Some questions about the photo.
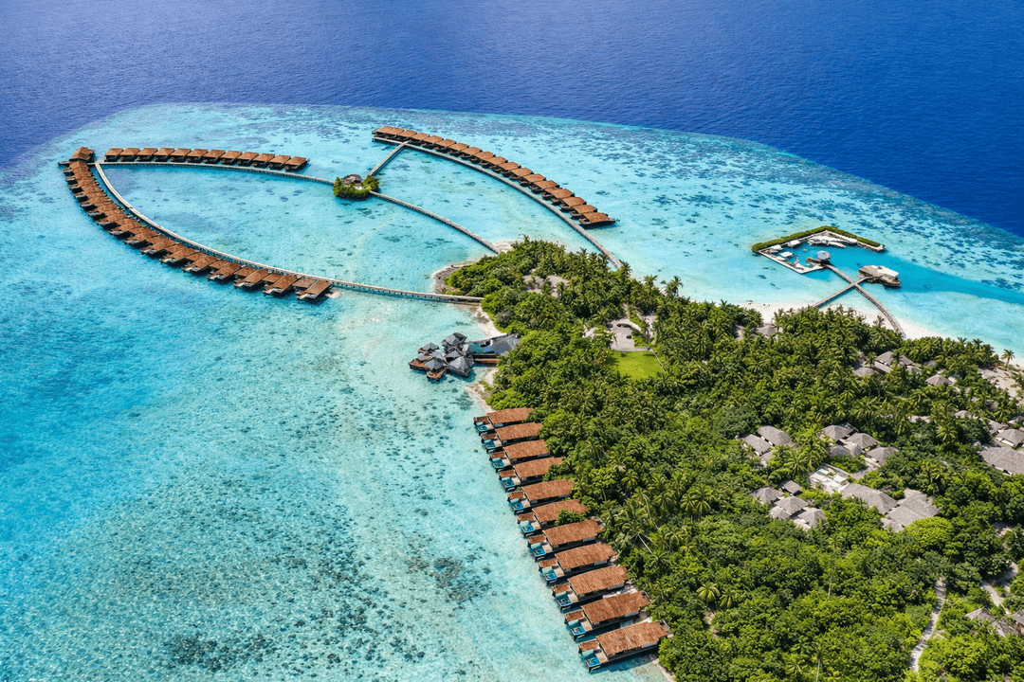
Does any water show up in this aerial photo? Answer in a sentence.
Yes, some water is visible.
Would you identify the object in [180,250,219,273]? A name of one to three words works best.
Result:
house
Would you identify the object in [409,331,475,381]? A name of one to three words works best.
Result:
building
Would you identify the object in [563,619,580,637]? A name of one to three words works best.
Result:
swimming pool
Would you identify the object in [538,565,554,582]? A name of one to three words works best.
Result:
swimming pool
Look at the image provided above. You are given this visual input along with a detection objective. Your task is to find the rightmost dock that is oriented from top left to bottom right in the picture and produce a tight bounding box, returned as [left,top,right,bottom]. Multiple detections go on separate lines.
[825,264,907,336]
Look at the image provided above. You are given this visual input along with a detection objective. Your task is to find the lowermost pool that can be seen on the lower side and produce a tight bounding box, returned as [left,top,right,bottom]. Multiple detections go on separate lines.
[577,650,595,670]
